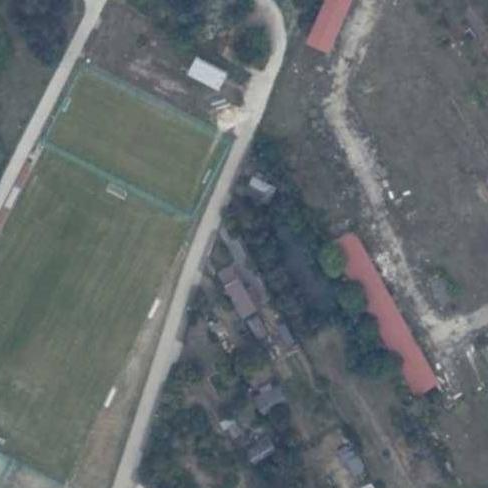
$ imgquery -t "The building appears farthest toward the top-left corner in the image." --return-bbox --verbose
[188,56,227,91]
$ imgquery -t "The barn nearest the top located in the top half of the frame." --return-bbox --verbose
[306,0,351,54]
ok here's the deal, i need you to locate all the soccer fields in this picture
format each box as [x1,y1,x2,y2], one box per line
[0,150,192,486]
[47,68,224,214]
